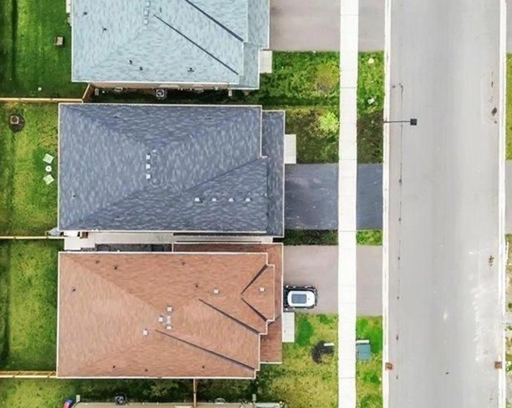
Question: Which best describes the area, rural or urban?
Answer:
urban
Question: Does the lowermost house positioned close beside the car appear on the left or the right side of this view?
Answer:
left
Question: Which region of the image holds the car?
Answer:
bottom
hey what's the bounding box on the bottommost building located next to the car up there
[58,244,284,378]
